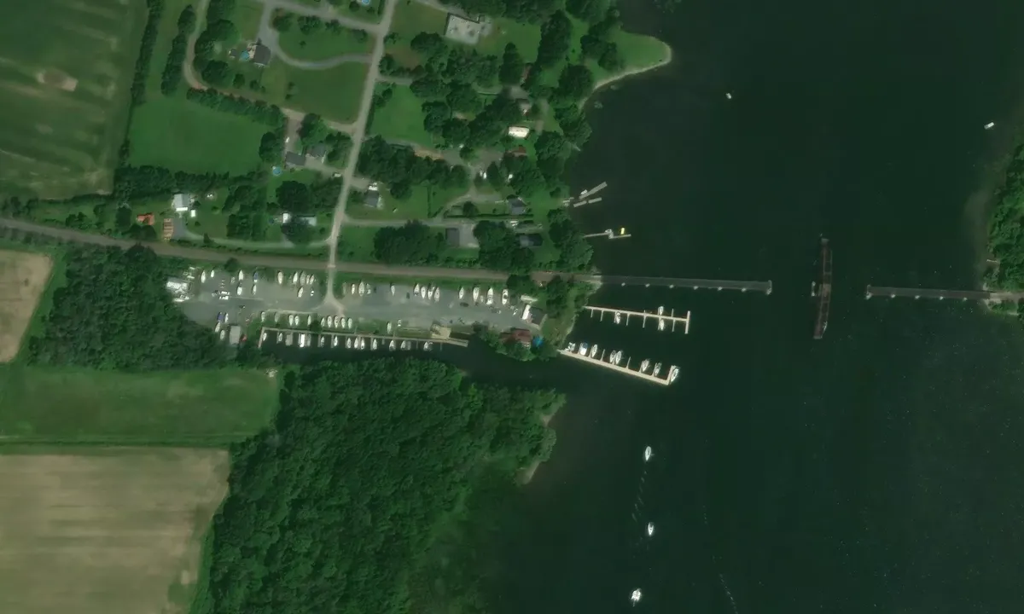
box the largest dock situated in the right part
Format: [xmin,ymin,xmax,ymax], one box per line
[558,343,674,386]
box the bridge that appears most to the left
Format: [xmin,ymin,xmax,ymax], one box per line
[590,274,773,293]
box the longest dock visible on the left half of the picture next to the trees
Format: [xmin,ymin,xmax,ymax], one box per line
[258,327,468,351]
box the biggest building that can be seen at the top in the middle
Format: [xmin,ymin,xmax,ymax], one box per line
[445,14,479,45]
